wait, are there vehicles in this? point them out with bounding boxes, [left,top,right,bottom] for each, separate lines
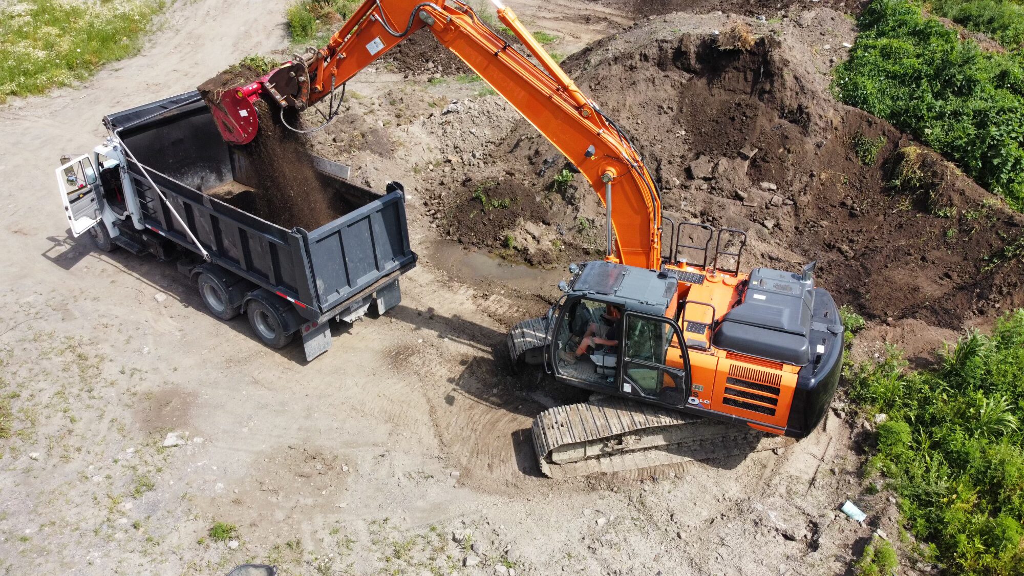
[55,88,419,366]
[191,0,847,482]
